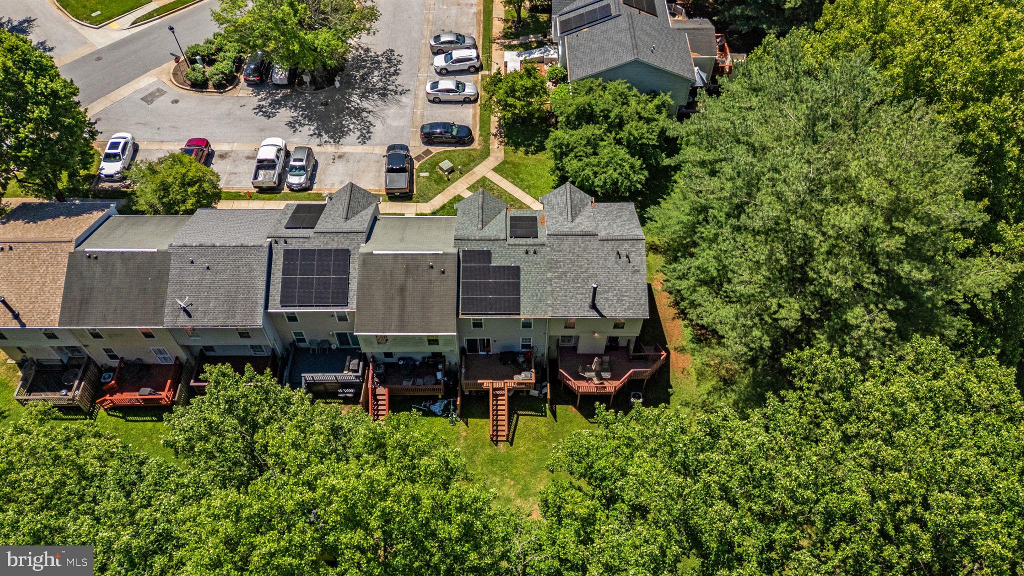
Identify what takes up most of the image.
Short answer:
trees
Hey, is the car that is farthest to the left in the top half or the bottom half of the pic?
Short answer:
top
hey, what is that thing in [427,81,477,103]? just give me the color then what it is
gray car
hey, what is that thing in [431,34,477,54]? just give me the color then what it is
gray car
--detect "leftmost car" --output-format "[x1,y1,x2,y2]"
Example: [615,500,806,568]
[99,135,135,178]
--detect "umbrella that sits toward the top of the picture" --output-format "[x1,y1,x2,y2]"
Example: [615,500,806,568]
[688,83,711,109]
